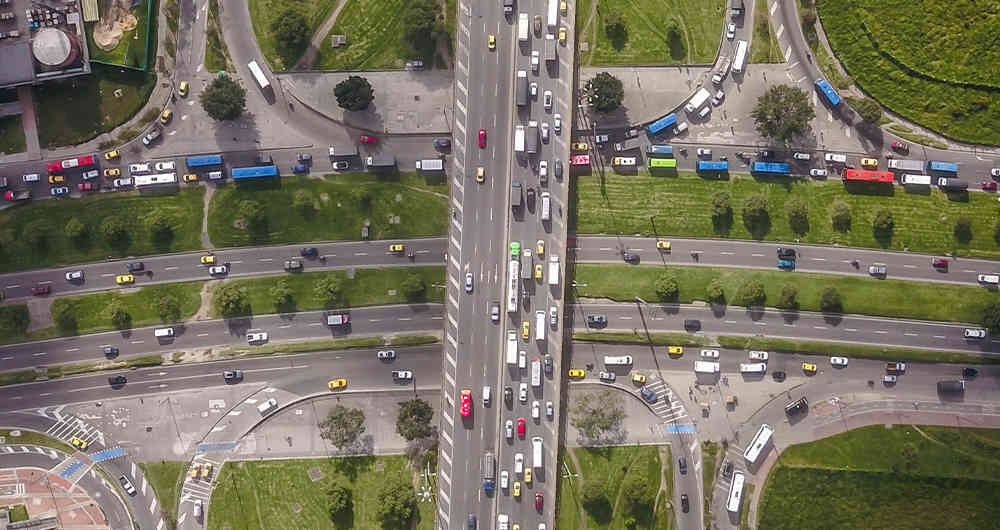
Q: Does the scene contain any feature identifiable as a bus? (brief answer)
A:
Yes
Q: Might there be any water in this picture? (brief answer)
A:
No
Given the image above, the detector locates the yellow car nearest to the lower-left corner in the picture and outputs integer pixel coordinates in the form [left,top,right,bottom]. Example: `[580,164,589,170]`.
[71,434,89,448]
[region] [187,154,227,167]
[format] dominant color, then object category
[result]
blue vehicle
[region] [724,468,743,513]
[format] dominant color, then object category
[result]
white vehicle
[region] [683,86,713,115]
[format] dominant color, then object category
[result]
white truck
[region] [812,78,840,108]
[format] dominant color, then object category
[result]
blue bus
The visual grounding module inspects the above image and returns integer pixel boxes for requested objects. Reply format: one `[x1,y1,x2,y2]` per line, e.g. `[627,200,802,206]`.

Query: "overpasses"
[437,0,576,530]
